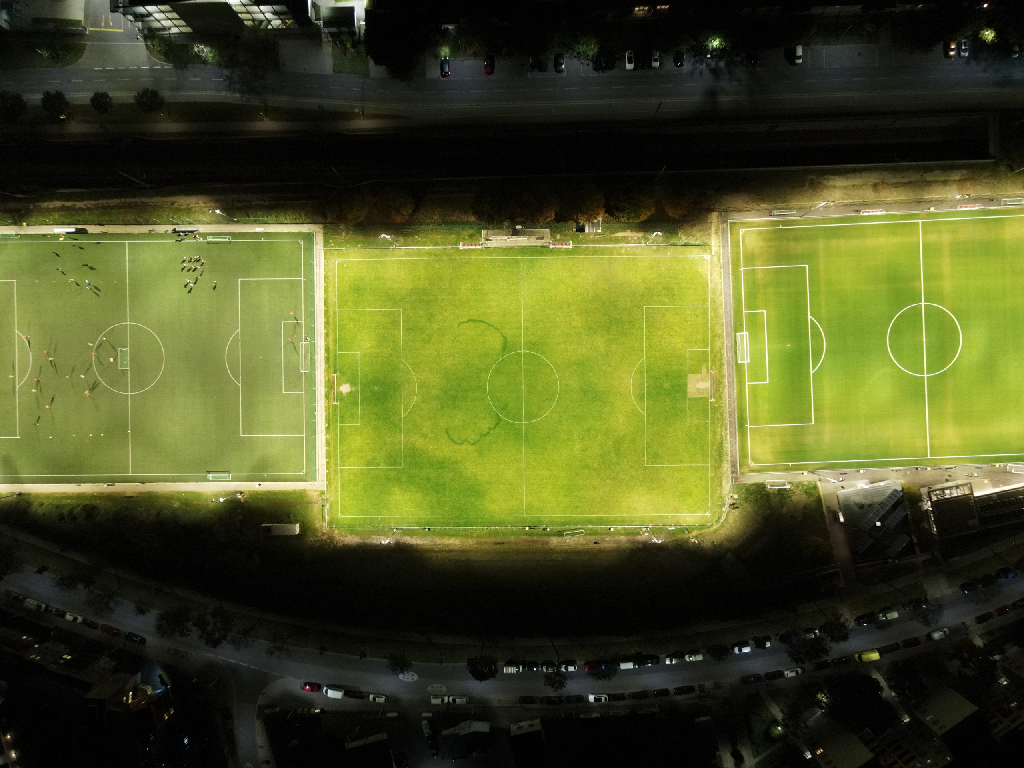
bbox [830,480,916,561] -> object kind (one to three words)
building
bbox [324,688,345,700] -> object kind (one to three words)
vehicle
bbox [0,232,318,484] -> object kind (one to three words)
soccer field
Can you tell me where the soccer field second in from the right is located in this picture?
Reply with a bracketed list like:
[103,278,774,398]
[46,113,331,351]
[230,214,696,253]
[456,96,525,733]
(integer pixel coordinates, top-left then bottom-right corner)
[324,245,730,528]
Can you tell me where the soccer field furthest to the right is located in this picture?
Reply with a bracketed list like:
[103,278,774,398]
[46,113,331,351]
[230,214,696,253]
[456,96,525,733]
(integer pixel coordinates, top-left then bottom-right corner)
[730,207,1024,474]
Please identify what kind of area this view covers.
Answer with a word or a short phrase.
sports ground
